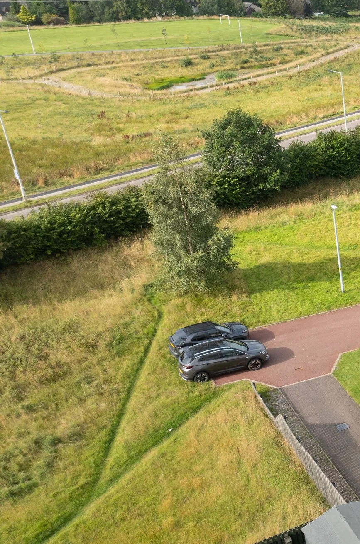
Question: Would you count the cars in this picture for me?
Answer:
2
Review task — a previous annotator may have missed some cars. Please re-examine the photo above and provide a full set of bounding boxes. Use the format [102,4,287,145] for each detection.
[162,320,251,361]
[177,337,270,385]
